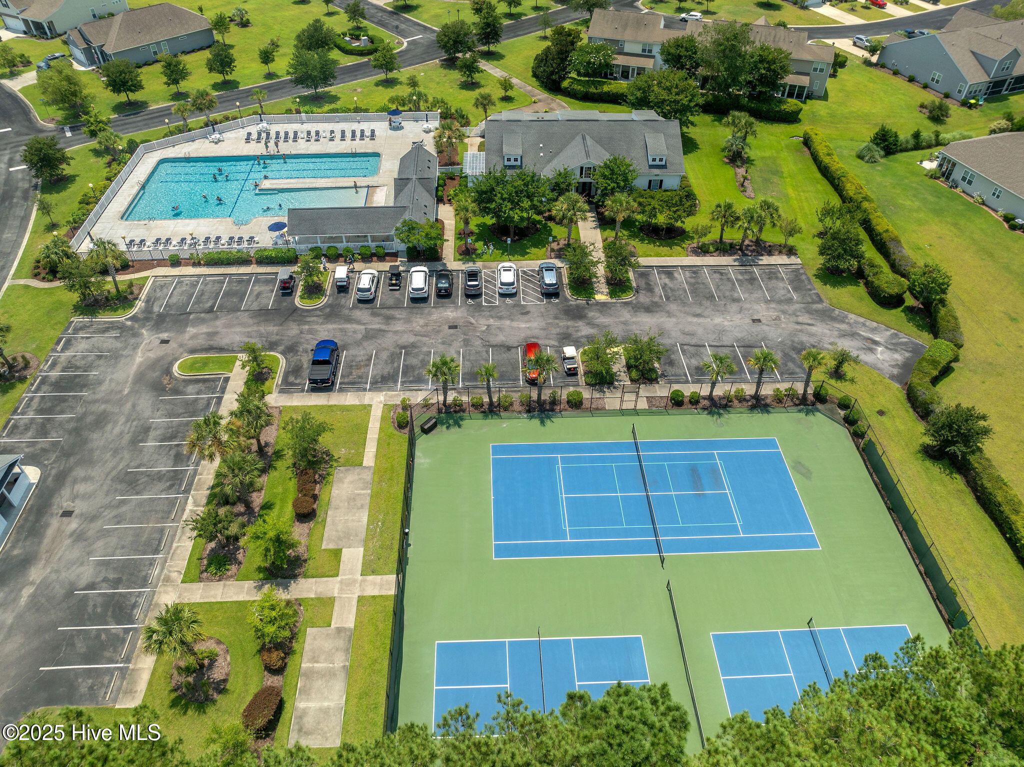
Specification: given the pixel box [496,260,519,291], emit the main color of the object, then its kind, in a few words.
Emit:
white car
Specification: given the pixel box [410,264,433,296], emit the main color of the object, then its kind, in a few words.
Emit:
white car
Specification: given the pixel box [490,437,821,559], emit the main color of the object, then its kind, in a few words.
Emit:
blue tennis court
